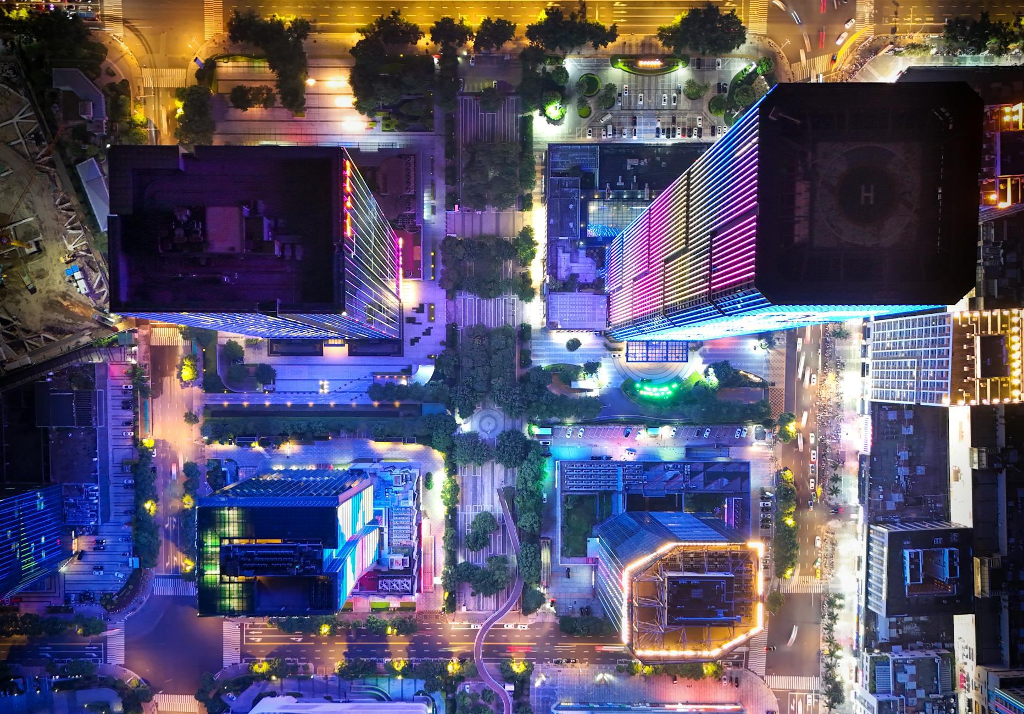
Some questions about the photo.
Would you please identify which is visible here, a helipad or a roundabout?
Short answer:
helipad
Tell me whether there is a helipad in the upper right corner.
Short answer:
Yes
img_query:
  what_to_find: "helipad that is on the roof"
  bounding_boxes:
[814,144,917,246]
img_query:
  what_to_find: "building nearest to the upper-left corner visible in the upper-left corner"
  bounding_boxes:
[52,67,115,139]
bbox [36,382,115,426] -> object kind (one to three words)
building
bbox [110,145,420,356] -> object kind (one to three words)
building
